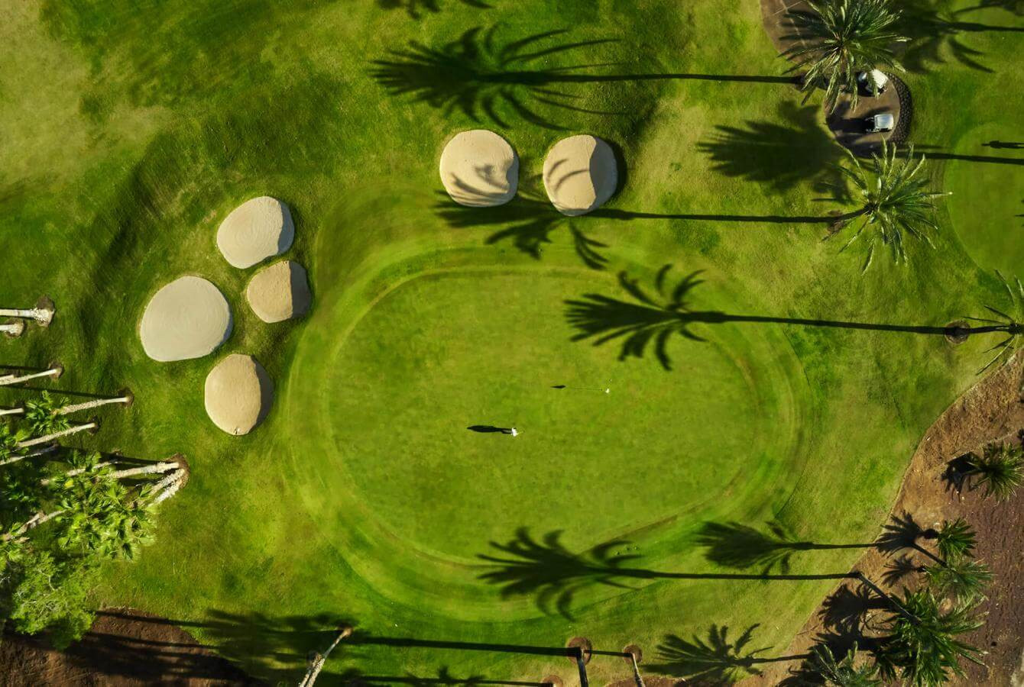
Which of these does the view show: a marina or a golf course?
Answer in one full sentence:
What you see here is a golf course.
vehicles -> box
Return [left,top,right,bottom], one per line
[866,67,891,93]
[863,112,896,130]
